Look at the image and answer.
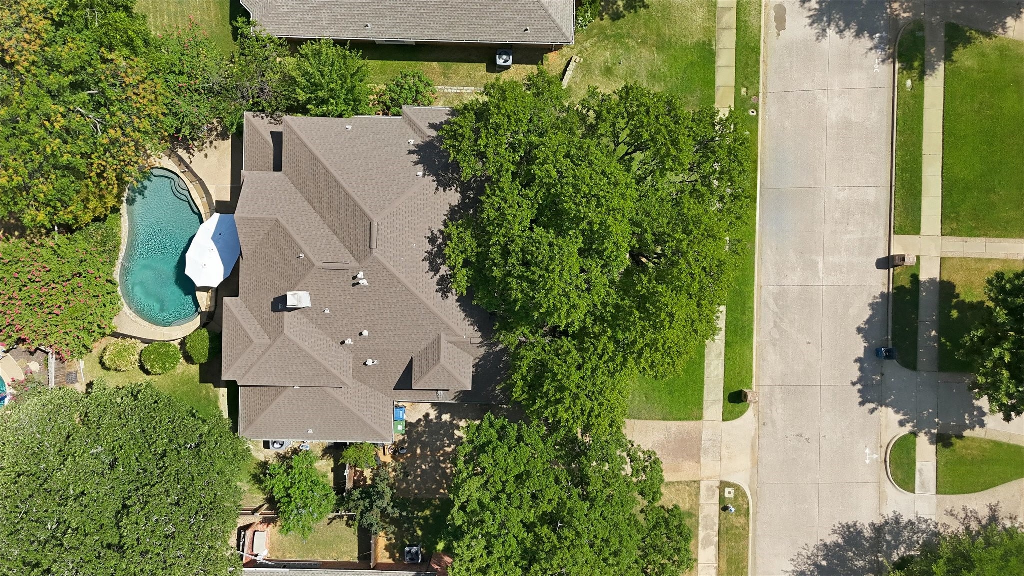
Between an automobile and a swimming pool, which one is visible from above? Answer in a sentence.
Visible in the photo is a swimming pool.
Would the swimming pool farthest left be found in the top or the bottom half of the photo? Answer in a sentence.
The bottom half of the photo is where the swimming pool farthest left is.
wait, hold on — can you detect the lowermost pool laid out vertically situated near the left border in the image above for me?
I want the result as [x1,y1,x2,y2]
[0,351,23,414]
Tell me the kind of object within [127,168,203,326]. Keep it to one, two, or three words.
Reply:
swimming pool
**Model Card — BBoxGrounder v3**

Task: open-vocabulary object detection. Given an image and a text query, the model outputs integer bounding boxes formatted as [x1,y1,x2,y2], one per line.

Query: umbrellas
[185,213,239,288]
